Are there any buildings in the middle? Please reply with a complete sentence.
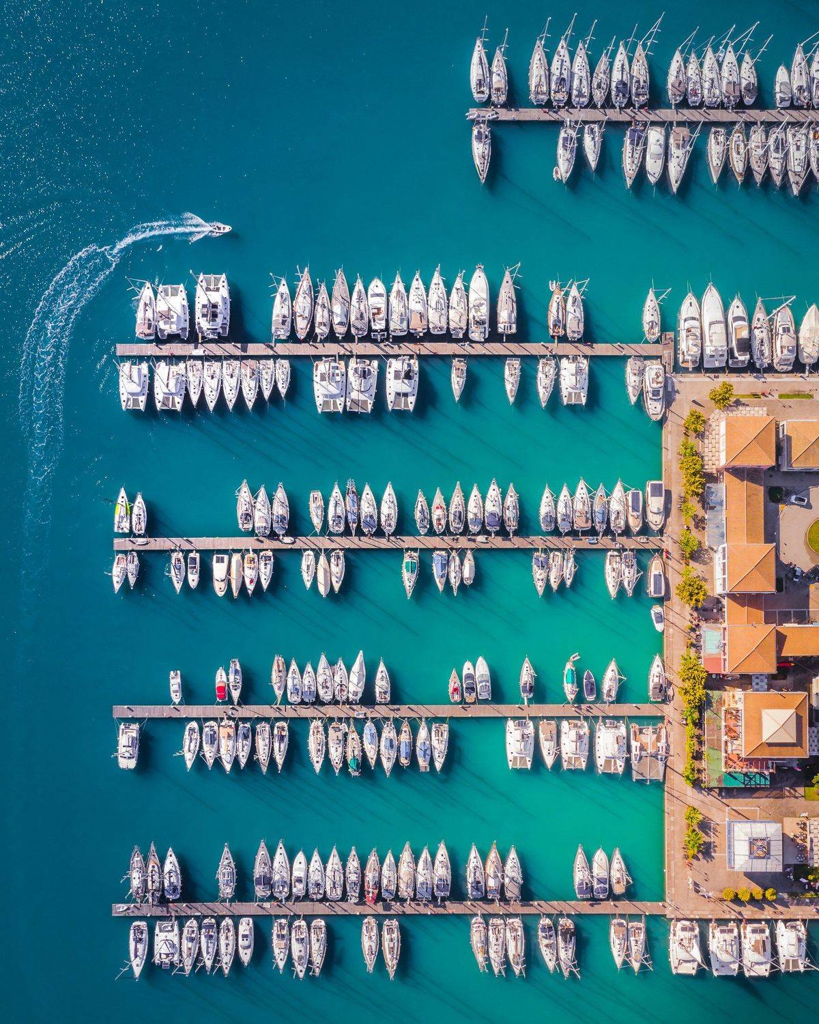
No, there is no building in the middle.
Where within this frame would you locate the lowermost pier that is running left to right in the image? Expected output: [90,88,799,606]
[112,901,666,916]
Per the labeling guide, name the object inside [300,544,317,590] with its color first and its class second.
white boat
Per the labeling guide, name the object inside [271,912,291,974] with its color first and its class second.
white boat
